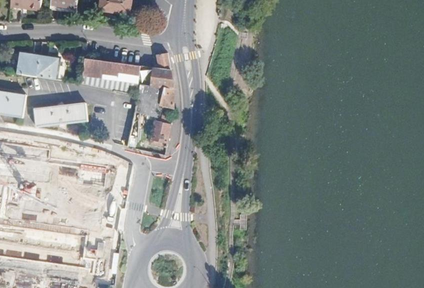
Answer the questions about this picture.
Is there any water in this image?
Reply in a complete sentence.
Yes, water can be seen from above here.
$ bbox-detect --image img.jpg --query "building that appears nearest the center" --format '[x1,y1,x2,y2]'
[151,120,172,141]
